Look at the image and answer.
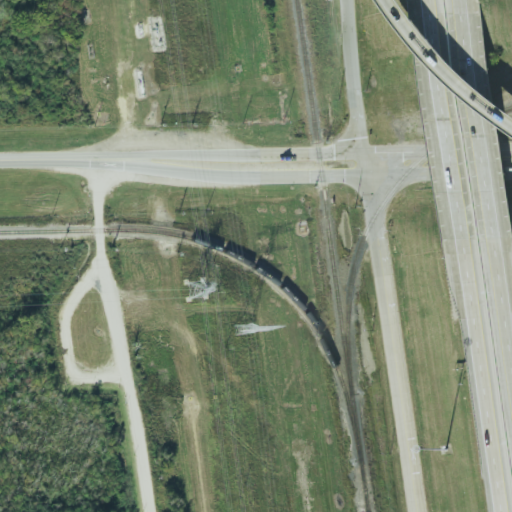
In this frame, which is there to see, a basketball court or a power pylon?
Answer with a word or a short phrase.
power pylon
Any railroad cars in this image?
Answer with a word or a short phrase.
Yes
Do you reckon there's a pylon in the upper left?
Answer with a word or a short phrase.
No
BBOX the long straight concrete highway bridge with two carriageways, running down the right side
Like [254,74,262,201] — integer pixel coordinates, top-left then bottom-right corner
[406,2,512,318]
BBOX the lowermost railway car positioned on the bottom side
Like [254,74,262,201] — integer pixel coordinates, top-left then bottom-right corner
[320,338,339,368]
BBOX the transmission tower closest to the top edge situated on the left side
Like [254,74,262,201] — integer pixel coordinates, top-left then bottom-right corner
[184,278,218,302]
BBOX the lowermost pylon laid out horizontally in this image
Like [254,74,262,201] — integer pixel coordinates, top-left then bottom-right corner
[232,320,274,338]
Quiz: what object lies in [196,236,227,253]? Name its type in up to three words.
rail car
